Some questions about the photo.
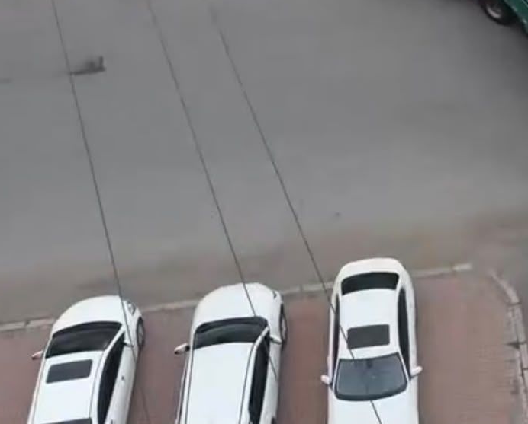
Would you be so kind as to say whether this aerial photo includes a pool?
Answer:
No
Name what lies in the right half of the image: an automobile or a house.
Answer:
automobile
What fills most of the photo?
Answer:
paved ground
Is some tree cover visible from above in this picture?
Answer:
No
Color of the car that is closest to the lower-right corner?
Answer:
white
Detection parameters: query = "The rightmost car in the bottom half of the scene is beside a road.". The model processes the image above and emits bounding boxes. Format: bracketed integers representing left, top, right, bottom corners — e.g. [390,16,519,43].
[317,260,425,424]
